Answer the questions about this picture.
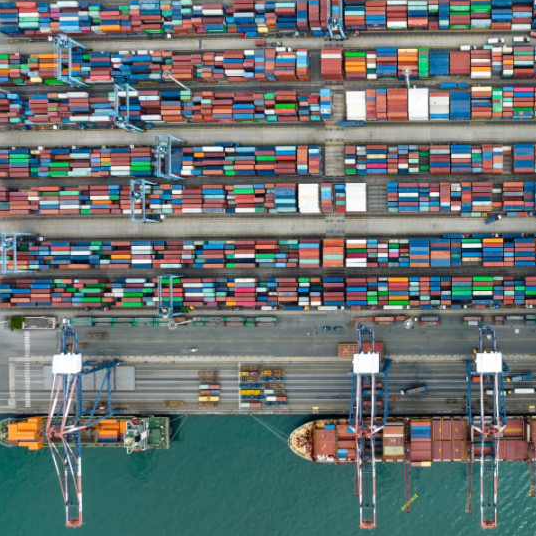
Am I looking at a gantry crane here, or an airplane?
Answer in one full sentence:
Looking from above, you can make out a gantry crane.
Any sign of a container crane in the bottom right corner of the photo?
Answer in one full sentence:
Yes, there is a container crane in the bottom right corner of the photo.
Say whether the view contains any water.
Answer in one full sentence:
Yes, water shows up in the scene.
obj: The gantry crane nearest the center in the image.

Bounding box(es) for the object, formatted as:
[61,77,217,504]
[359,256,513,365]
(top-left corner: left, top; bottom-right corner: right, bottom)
[155,275,194,319]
